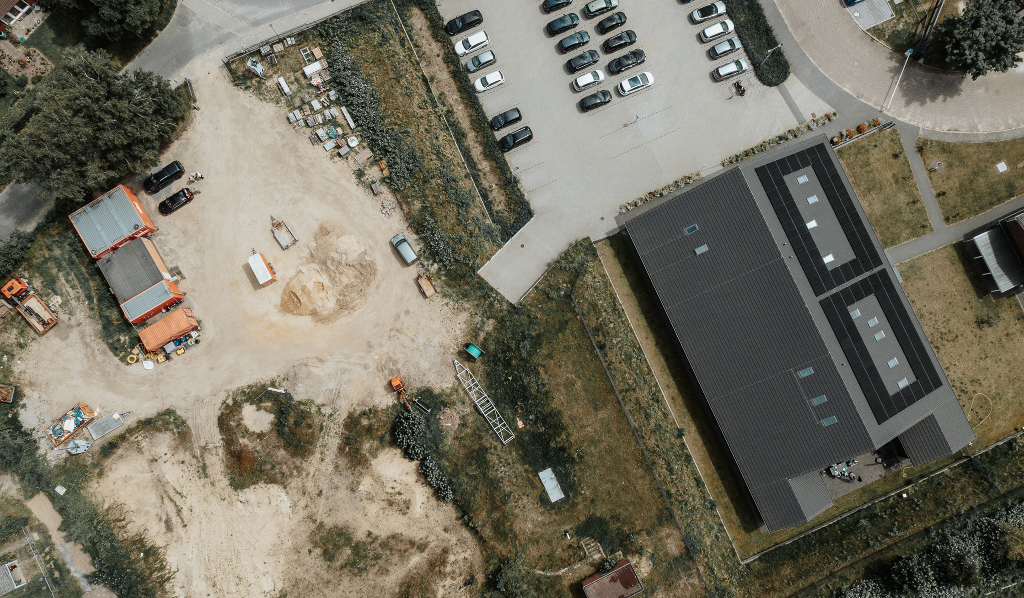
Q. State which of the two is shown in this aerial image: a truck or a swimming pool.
truck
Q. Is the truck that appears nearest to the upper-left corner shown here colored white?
No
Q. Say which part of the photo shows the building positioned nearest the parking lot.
right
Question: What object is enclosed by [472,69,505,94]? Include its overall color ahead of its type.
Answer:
white car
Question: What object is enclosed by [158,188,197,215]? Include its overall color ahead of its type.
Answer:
black car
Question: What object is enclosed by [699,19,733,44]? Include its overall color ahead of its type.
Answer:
white car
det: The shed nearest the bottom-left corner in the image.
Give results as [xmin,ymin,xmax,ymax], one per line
[0,554,40,596]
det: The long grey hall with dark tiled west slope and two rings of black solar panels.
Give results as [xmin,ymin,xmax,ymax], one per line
[625,133,977,533]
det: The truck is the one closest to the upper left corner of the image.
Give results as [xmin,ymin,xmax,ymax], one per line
[138,159,184,192]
